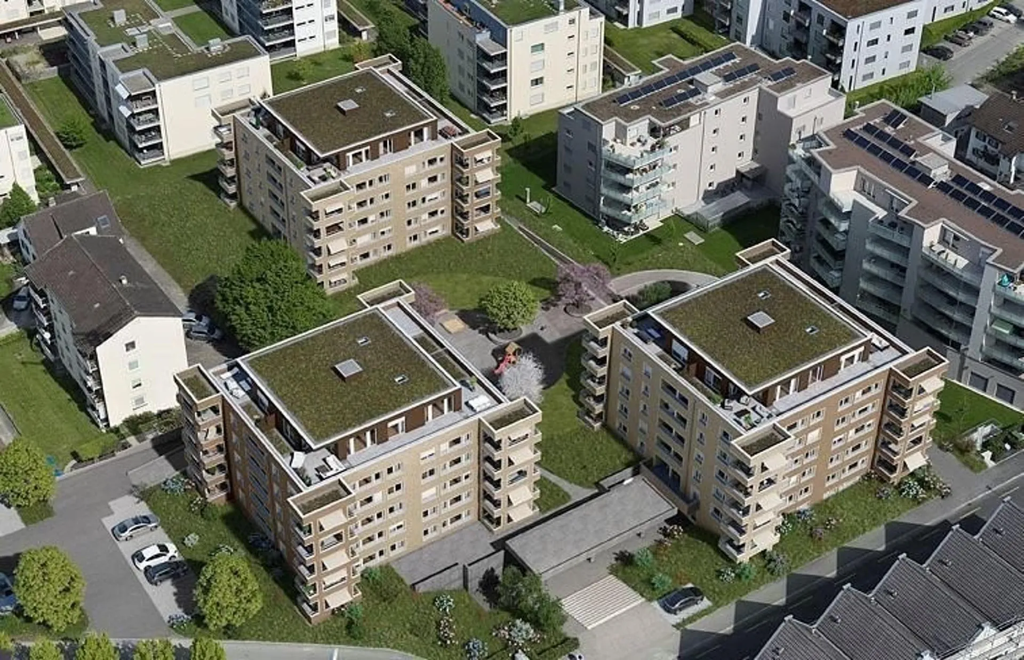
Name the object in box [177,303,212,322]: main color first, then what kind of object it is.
gray car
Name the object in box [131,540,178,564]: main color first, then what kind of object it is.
white car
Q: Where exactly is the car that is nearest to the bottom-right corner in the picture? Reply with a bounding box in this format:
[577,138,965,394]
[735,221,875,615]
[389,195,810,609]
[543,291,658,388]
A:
[659,583,707,609]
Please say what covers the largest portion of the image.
buildings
